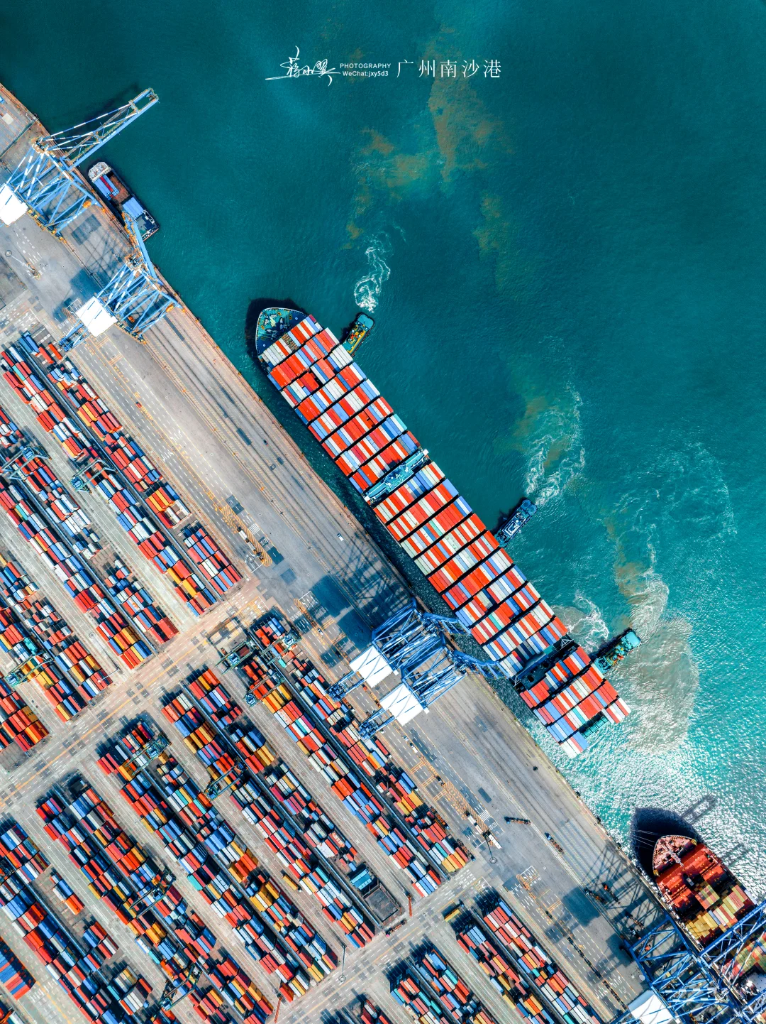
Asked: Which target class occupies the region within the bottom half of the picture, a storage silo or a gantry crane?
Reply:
gantry crane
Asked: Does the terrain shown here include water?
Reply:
Yes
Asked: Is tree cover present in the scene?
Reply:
No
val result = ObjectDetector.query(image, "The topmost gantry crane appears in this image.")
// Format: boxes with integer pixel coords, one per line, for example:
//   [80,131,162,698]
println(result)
[0,90,159,250]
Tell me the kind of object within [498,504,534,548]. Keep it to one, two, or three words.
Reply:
boat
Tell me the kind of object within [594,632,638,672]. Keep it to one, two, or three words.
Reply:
boat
